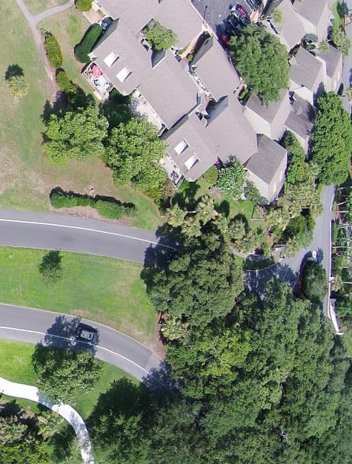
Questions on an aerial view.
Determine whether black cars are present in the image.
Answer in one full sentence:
Yes, the photo shows a black car.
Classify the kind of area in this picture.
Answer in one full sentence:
This image shows a residential area.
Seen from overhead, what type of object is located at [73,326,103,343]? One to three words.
car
